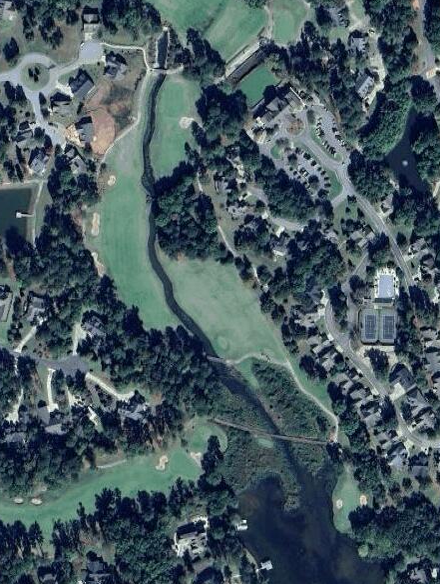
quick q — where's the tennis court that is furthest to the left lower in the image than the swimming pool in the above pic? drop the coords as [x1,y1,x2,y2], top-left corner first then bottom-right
[362,310,380,344]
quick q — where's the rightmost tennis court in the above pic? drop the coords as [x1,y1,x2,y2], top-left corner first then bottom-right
[380,310,397,344]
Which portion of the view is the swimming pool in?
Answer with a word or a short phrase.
right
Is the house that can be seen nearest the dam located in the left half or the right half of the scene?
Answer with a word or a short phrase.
left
